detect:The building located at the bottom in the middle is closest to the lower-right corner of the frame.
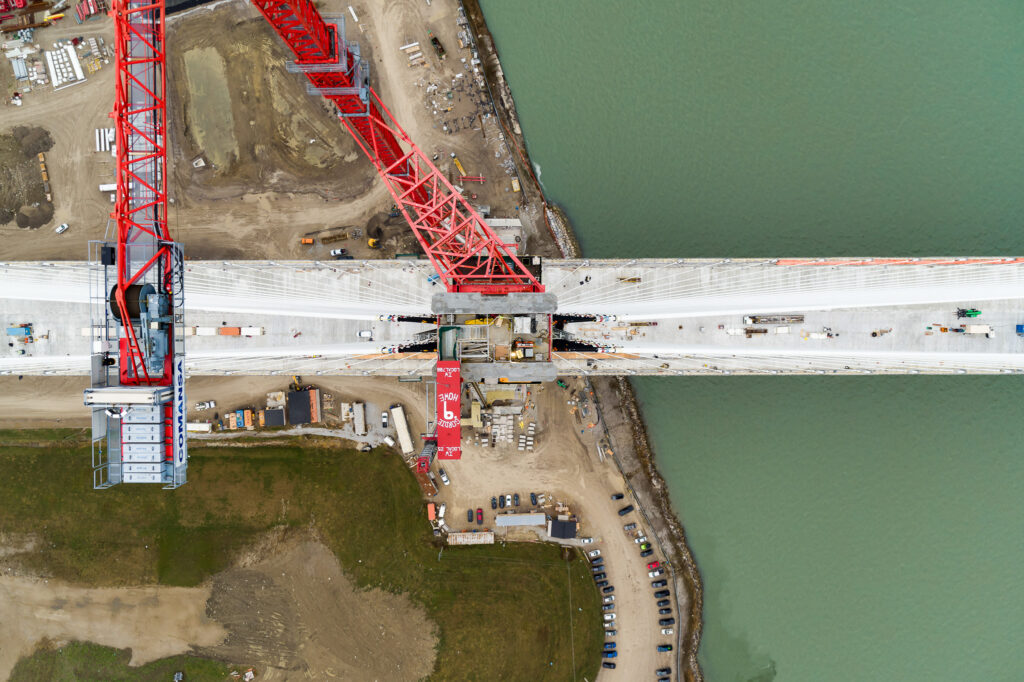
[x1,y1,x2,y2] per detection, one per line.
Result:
[550,517,576,538]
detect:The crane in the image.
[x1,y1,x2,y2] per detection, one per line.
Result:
[84,0,545,489]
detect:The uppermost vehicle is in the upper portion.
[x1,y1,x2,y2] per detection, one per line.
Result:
[427,30,449,62]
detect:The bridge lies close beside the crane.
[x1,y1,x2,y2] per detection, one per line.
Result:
[0,242,1024,392]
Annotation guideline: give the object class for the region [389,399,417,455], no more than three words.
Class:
trailer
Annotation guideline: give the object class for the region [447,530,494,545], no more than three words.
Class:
building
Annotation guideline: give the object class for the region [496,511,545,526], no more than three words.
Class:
building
